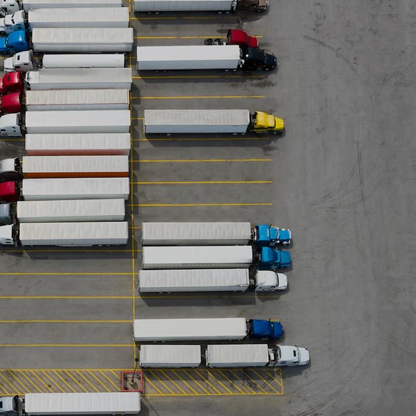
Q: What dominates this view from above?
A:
paved ground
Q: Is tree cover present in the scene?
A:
No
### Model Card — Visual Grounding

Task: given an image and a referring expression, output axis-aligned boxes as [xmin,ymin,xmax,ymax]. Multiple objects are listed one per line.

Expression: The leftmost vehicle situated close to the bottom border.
[0,392,141,416]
